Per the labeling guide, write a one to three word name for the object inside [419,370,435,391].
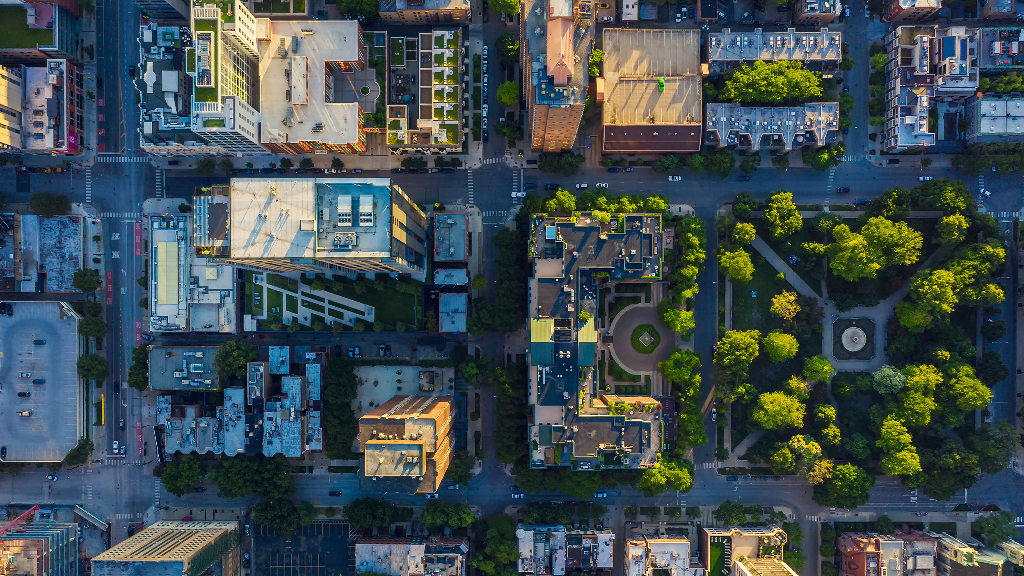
building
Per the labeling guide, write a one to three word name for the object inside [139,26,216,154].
building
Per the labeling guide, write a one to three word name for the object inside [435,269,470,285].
house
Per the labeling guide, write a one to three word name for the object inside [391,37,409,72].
house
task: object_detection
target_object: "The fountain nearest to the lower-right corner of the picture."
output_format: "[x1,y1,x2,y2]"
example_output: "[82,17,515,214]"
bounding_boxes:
[842,326,868,352]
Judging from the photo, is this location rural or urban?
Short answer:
urban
